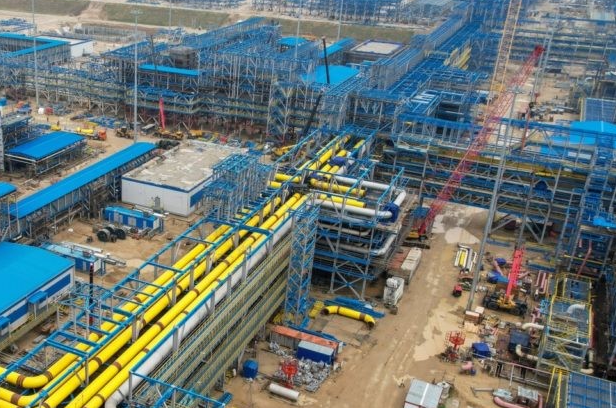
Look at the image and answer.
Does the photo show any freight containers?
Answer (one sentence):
Yes, a freight container can be made out from above.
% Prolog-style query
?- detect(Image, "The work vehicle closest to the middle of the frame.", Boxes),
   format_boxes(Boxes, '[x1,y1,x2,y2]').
[254,142,277,155]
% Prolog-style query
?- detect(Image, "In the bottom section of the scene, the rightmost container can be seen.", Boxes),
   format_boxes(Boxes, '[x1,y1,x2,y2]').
[397,250,425,281]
